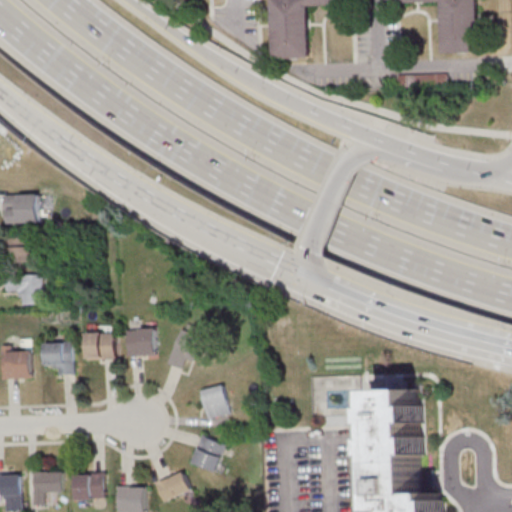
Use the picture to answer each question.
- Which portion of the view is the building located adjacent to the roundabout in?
bottom right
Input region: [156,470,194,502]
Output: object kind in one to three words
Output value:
house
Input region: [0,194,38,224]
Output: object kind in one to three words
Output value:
house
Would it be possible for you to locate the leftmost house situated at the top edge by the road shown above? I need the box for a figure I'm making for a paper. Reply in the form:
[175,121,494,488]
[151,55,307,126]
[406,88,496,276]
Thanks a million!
[268,0,336,59]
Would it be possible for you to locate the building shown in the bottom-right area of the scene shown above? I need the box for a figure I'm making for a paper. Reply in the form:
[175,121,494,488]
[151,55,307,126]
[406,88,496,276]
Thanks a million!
[346,388,445,512]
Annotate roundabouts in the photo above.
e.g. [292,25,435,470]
[439,428,512,512]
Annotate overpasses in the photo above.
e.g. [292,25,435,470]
[294,145,392,255]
